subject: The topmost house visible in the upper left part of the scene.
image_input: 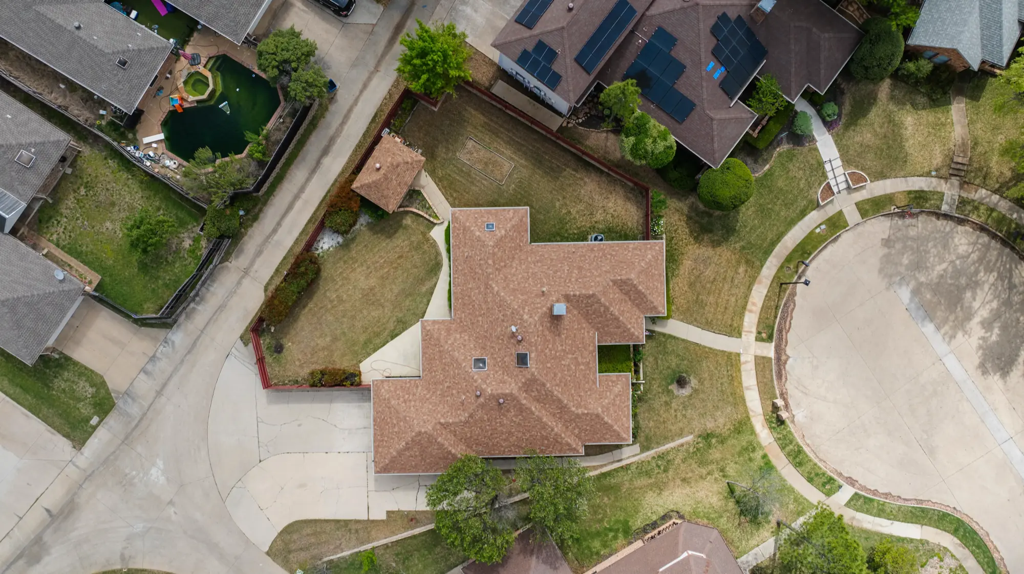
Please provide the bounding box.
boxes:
[169,0,286,51]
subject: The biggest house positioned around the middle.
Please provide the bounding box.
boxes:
[371,206,667,476]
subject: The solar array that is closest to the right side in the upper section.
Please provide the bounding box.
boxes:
[709,11,768,101]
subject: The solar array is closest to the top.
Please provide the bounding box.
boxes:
[515,0,555,28]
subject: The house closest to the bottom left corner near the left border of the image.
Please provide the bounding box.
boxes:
[0,219,102,365]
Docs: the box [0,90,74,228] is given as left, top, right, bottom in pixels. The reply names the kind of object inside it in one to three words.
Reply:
house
